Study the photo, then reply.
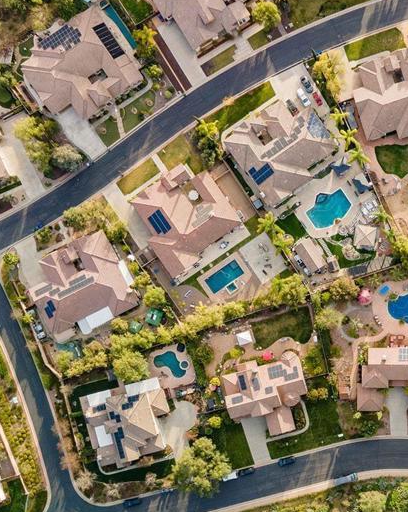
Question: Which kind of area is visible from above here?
residential area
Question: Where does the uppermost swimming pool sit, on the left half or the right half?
left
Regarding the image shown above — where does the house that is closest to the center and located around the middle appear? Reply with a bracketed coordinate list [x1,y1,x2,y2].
[129,164,241,278]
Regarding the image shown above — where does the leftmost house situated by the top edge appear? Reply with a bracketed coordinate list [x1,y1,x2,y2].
[19,6,145,123]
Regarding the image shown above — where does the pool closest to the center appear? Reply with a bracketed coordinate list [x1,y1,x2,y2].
[204,258,245,294]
